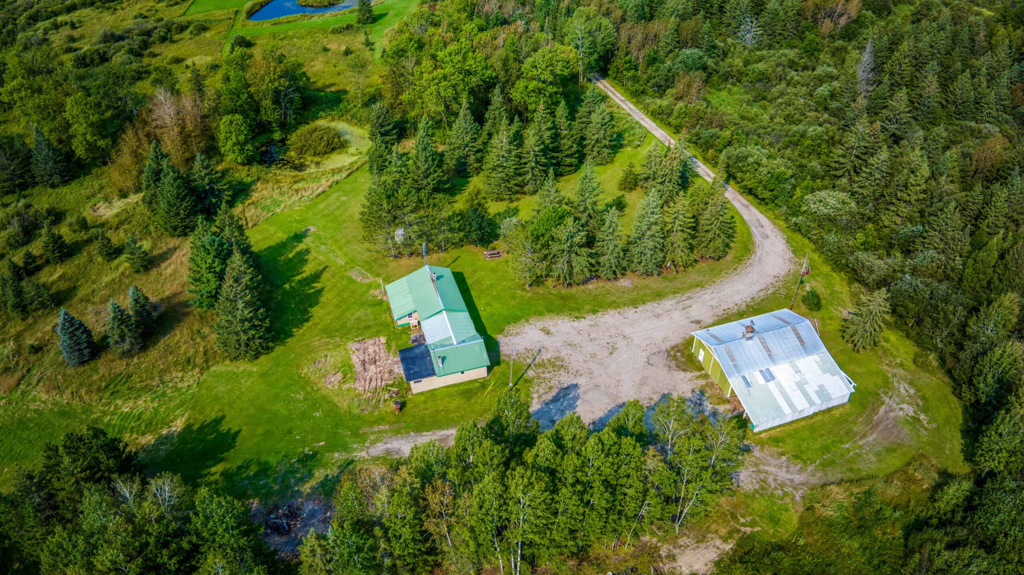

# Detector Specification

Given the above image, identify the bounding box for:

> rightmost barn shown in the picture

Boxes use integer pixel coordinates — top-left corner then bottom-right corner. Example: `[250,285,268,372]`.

[693,308,854,430]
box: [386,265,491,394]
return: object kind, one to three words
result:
house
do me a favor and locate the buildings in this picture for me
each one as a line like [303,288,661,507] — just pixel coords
[693,308,854,430]
[386,265,491,394]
